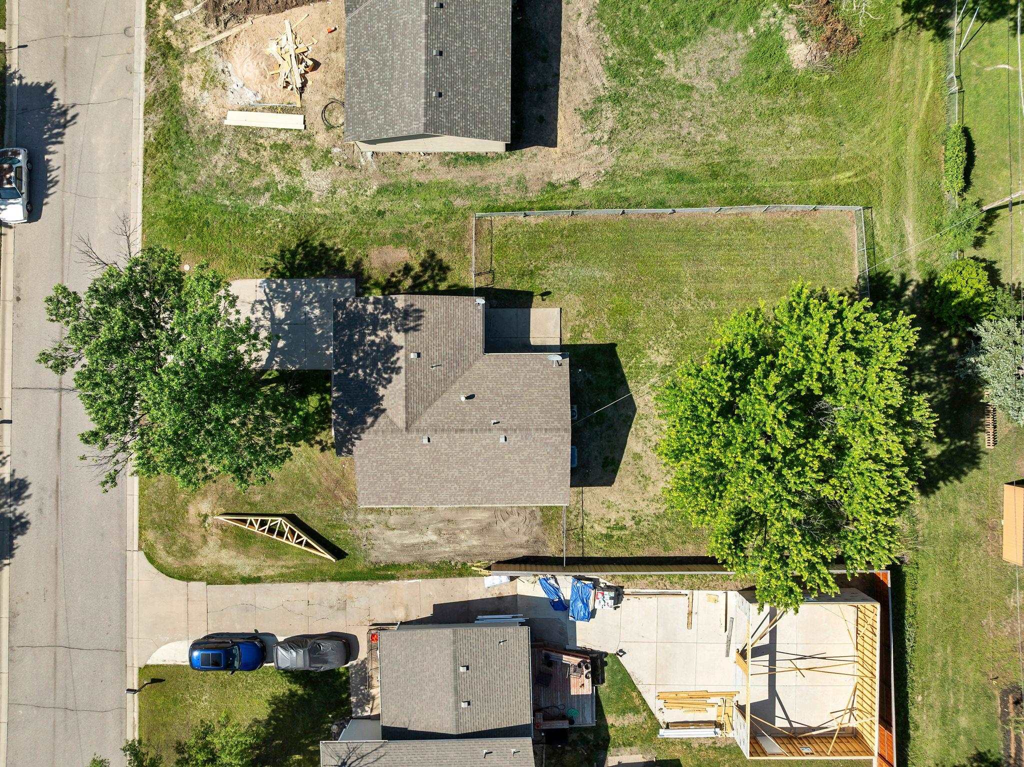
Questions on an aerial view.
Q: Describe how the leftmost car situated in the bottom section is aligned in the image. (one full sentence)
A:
The leftmost car situated in the bottom section runs from side to side in the image.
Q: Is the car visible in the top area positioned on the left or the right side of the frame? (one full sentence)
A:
It is on the left.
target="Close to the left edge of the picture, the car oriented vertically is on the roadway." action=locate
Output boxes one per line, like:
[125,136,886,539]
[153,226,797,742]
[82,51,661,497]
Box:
[0,148,36,225]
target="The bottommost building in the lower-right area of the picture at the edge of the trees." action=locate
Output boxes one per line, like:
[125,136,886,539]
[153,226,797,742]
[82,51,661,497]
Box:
[735,589,879,758]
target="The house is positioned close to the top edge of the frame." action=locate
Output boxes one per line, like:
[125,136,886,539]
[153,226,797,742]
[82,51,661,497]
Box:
[345,0,511,152]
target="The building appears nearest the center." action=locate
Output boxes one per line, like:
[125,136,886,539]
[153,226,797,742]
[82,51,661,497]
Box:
[330,294,571,508]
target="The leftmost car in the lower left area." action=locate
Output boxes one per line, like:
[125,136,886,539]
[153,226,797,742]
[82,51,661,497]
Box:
[189,637,267,676]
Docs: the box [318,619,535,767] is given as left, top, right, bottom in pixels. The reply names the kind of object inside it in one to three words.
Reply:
house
